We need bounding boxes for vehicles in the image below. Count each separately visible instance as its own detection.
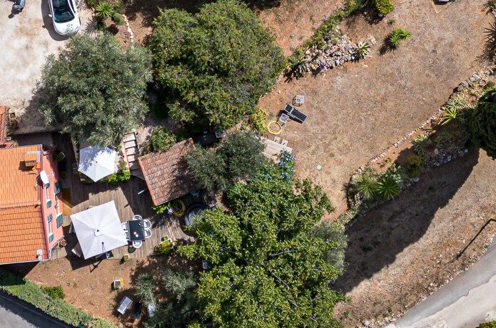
[11,0,22,10]
[50,0,83,39]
